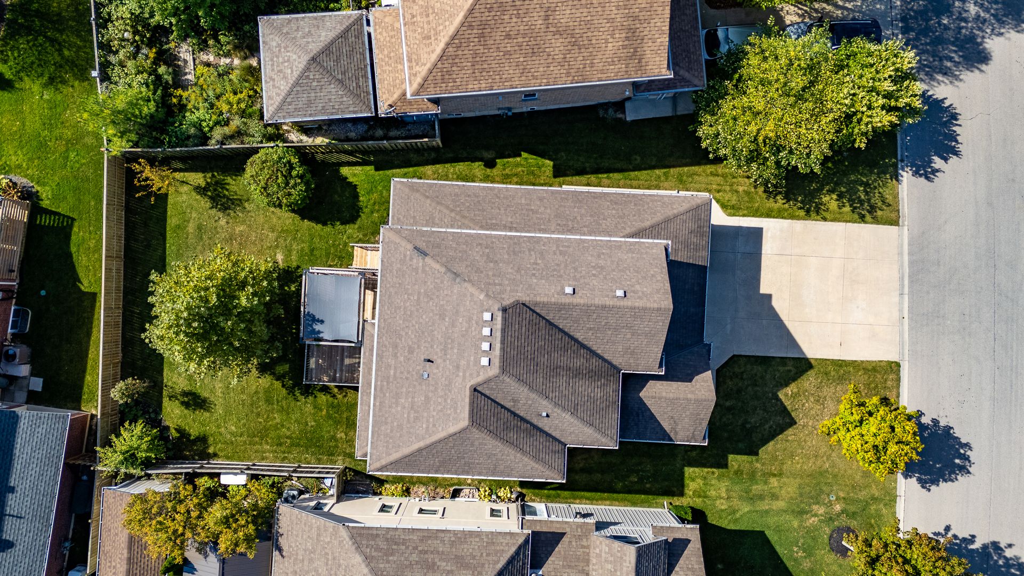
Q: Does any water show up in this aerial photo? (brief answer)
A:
No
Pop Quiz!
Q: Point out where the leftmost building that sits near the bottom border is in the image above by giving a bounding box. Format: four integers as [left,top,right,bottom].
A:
[0,393,91,576]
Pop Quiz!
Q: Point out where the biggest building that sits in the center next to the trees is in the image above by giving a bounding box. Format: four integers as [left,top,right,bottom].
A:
[354,176,716,485]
